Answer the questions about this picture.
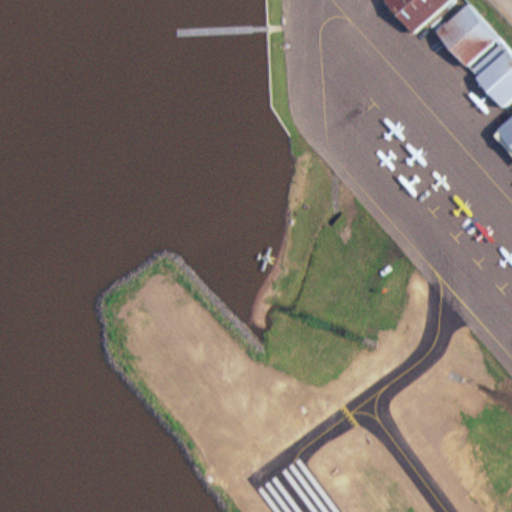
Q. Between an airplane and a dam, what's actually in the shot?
airplane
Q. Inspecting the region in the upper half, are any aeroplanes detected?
Yes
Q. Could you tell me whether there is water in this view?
Yes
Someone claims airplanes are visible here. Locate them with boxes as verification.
[399,174,422,196]
[474,223,494,244]
[451,196,473,218]
[377,150,398,171]
[498,247,512,270]
[256,248,276,271]
[469,92,490,114]
[382,118,404,142]
[404,144,426,168]
[430,172,450,192]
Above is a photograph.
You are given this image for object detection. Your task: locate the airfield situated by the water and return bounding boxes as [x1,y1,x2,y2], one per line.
[248,0,512,512]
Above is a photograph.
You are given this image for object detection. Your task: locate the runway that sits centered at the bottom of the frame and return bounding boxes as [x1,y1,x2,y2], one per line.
[258,454,348,512]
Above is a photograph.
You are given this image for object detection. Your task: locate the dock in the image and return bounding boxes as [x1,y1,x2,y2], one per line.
[176,24,269,37]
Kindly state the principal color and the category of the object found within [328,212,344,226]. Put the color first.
black vehicle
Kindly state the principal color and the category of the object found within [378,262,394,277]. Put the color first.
white vehicle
